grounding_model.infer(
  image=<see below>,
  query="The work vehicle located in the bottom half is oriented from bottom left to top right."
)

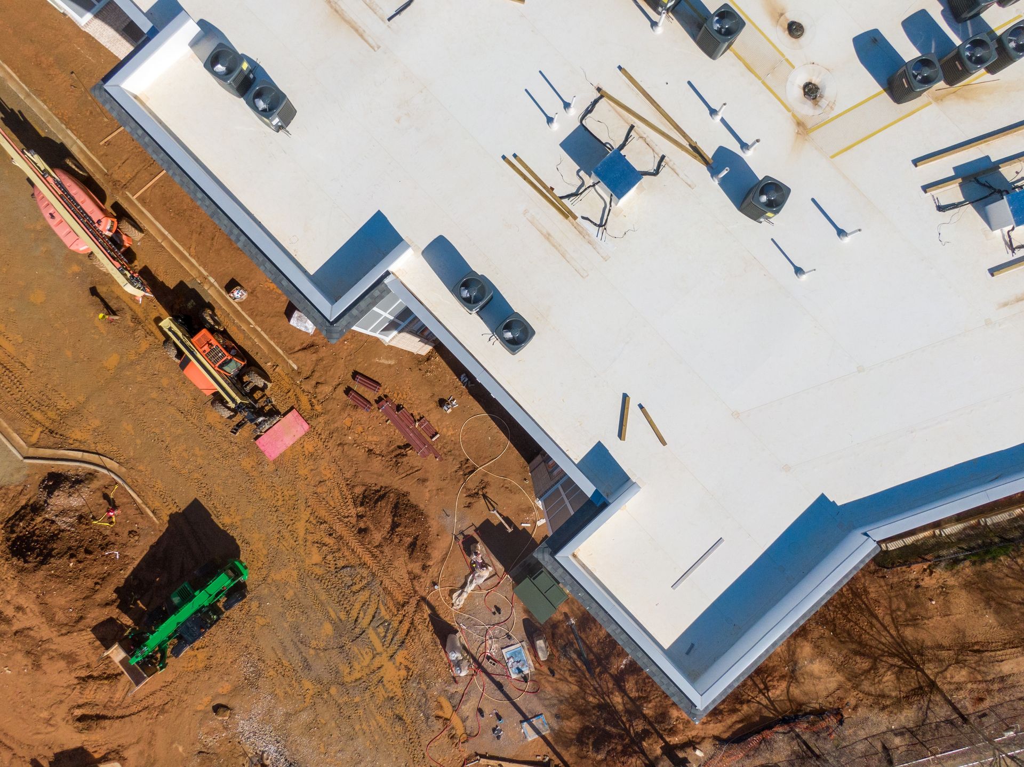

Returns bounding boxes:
[97,551,254,697]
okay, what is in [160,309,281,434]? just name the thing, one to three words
work vehicle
